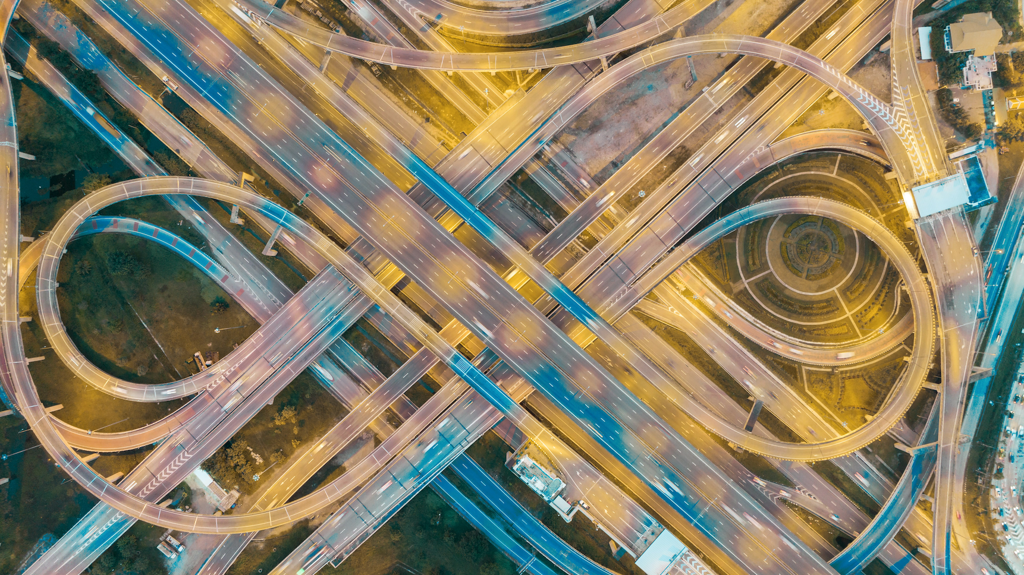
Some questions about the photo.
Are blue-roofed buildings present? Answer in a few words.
Yes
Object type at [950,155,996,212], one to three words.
building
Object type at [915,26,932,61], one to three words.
shed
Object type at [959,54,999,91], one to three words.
building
